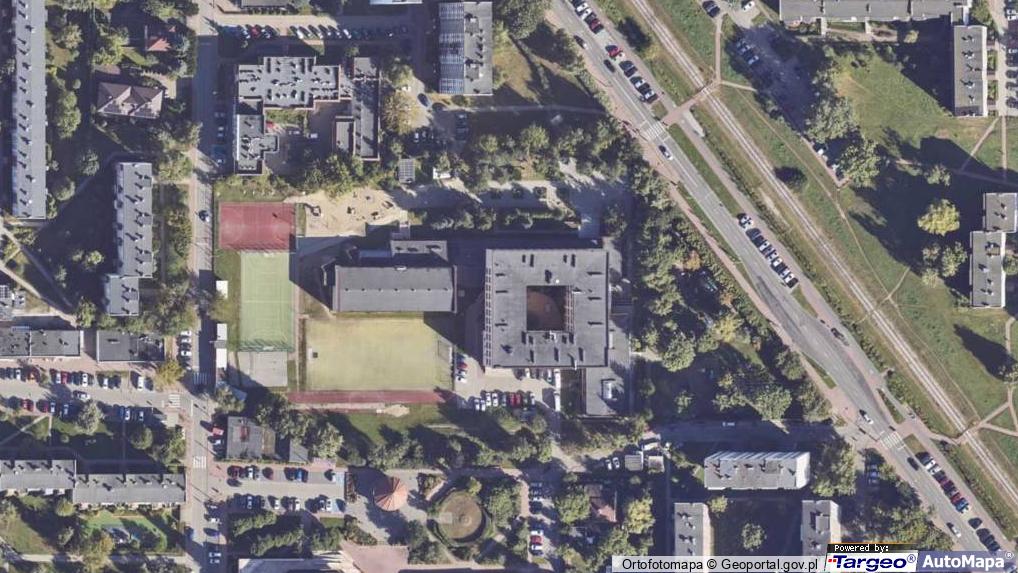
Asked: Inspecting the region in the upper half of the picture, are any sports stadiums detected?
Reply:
No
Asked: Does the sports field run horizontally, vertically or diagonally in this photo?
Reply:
horizontally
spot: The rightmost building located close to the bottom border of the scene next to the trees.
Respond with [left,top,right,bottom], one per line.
[797,499,838,573]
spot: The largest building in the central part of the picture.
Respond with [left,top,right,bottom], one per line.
[484,248,608,371]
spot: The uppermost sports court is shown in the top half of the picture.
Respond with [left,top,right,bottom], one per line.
[218,202,295,250]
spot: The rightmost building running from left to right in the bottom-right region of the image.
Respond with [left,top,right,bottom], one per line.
[703,451,810,490]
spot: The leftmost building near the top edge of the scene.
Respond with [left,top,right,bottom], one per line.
[11,0,49,219]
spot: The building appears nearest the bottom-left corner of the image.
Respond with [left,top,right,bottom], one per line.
[0,456,77,493]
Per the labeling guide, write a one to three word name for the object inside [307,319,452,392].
sports field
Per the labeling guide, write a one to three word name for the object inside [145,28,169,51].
house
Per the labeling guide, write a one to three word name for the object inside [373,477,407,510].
tent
